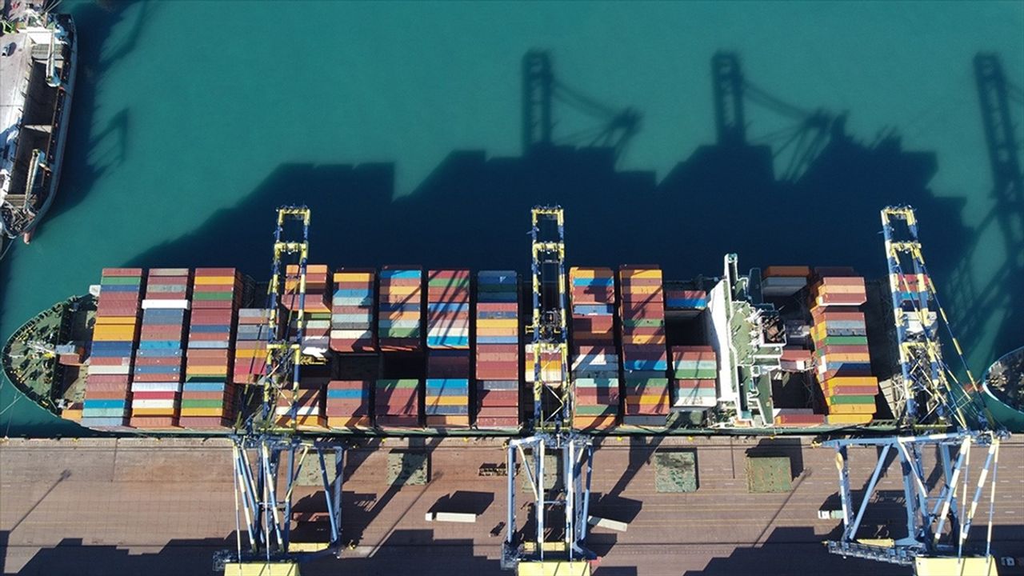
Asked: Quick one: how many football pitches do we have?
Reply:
0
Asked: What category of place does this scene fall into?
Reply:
port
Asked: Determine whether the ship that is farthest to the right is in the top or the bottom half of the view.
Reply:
bottom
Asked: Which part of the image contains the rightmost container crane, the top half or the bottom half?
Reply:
bottom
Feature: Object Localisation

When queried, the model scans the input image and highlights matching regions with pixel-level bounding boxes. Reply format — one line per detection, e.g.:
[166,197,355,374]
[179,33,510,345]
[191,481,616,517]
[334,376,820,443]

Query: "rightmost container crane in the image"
[799,203,1015,576]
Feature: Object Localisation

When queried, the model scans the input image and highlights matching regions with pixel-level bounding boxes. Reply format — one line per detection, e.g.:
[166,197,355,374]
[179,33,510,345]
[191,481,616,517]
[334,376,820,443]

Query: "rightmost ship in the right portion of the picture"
[960,345,1024,419]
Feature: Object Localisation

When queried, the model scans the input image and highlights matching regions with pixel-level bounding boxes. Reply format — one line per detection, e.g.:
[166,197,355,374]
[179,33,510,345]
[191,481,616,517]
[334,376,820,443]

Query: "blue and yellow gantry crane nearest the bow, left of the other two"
[214,203,370,576]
